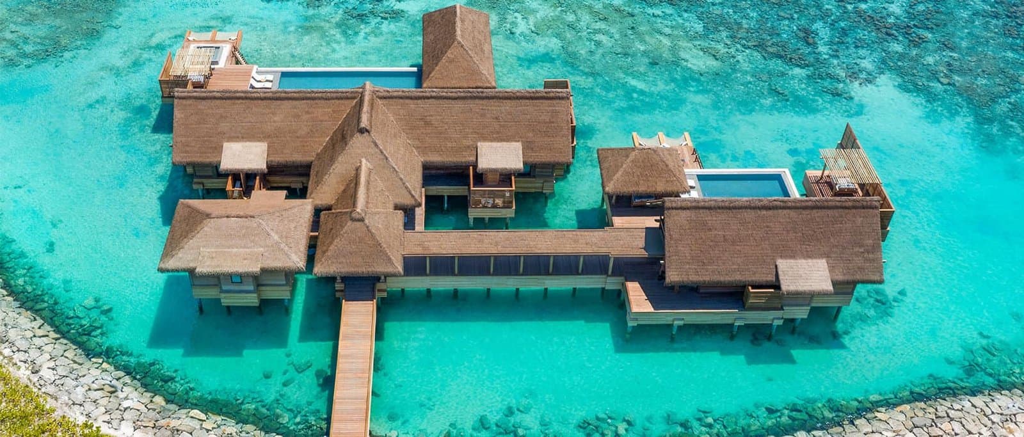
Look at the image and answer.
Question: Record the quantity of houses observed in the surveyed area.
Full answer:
Looking from above, you can make out 2 houses.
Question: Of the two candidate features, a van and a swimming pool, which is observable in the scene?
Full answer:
Of the two, only a swimming pool appears.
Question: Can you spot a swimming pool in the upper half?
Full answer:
Yes, there is a swimming pool in the upper half.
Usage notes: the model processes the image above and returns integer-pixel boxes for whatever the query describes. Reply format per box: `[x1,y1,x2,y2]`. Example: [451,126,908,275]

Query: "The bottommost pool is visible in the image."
[685,168,800,196]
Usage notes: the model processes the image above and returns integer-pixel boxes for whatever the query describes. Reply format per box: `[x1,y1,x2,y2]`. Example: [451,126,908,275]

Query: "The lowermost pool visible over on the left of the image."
[247,66,422,89]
